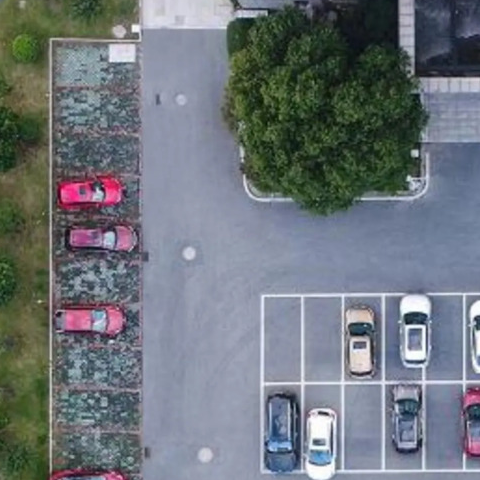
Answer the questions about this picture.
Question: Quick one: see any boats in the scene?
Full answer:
No, there is no boat in the image.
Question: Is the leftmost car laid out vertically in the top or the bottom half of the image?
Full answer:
You can find the leftmost car laid out vertically in the bottom half.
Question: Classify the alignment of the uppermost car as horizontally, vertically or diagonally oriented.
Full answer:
What the image shows is the uppermost car lying horizontally.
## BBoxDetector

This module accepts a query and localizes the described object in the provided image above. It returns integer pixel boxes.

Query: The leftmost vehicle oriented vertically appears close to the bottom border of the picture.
[263,392,301,472]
